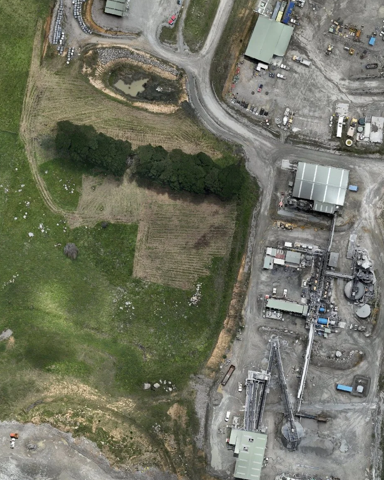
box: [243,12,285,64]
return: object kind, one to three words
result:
building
